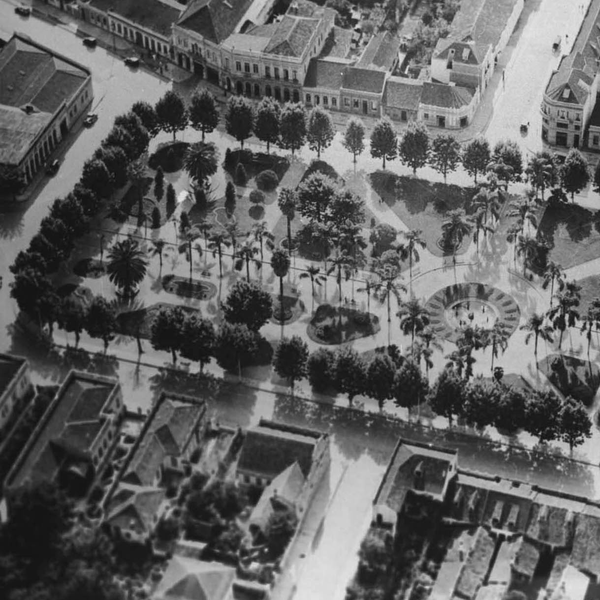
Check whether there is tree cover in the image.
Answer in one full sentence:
Yes, some tree cover is visible.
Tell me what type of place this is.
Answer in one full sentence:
What you see here is a residential area.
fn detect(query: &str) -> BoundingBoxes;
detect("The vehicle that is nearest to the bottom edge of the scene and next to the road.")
[46,157,61,172]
